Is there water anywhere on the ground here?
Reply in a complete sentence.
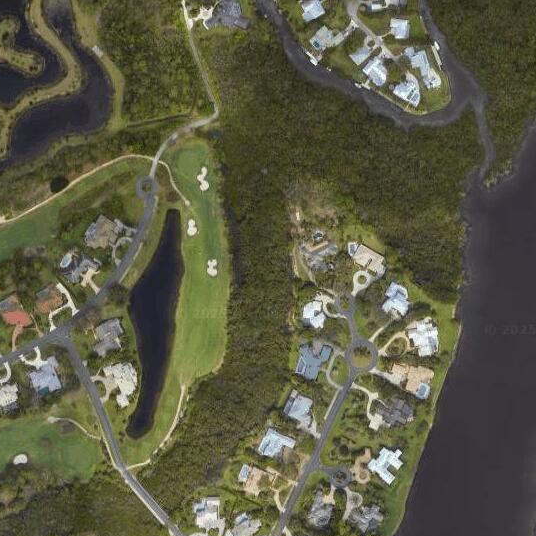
Yes, there is water in the image.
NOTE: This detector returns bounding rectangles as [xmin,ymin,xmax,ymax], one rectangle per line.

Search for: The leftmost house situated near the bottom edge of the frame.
[194,503,219,523]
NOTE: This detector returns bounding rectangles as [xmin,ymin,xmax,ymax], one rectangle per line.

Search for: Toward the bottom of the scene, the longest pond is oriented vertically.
[127,209,184,438]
